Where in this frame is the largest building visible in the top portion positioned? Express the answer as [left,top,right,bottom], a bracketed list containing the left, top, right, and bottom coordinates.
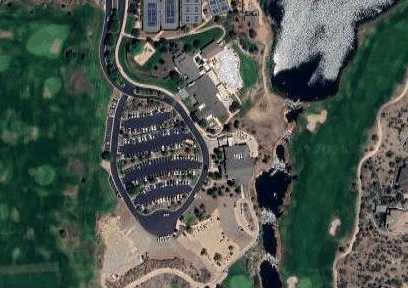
[173,41,229,129]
